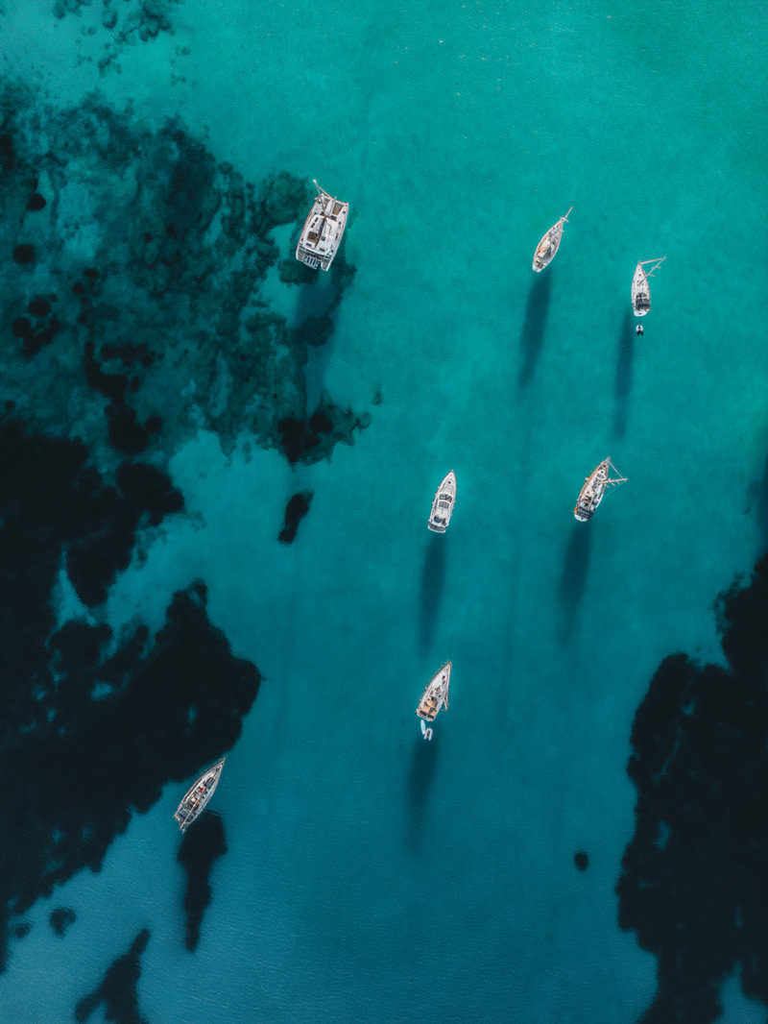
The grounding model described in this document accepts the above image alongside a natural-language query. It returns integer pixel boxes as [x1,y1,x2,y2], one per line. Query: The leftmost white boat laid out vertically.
[296,182,349,272]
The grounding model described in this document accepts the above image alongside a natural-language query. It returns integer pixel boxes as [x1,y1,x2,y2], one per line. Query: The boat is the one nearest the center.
[428,470,457,533]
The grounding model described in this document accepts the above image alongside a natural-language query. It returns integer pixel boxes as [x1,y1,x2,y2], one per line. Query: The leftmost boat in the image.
[174,758,225,832]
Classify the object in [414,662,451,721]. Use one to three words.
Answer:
boat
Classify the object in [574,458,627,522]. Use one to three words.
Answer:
boat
